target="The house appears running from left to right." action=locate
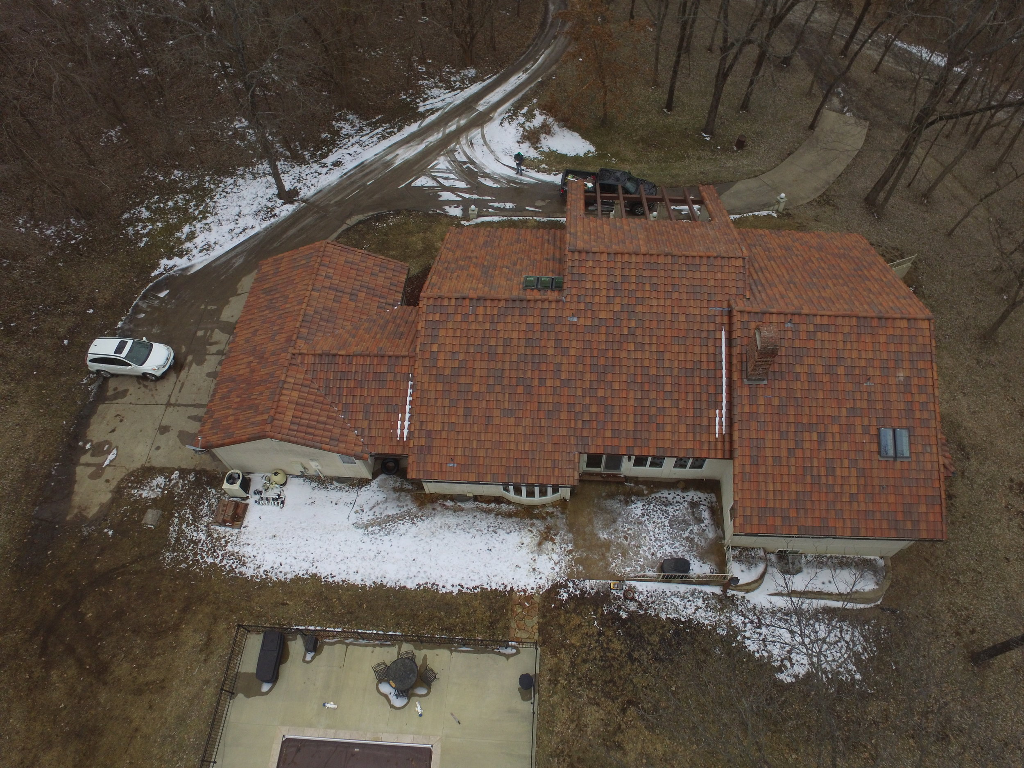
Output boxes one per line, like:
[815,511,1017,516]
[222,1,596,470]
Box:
[193,180,951,557]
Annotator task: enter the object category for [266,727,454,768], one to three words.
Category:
swimming pool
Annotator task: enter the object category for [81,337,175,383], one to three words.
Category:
car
